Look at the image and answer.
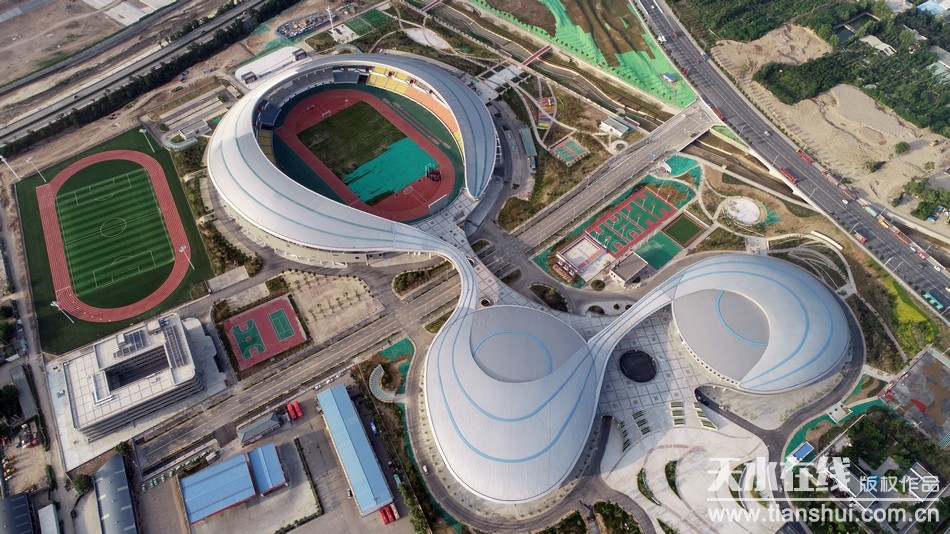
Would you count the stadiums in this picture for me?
2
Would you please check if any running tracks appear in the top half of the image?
Yes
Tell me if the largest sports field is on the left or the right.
left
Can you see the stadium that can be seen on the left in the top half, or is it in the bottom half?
top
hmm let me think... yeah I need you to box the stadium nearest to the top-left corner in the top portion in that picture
[207,52,500,310]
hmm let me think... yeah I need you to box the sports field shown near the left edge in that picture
[14,130,215,354]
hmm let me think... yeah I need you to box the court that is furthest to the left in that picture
[216,292,307,368]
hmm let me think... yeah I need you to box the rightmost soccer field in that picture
[662,208,710,248]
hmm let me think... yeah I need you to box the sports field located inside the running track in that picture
[299,100,406,206]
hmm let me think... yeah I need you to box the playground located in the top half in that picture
[537,97,556,129]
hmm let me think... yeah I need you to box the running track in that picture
[271,83,464,225]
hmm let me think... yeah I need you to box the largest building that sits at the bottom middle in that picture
[424,304,621,504]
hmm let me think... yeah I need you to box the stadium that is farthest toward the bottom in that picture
[620,252,852,395]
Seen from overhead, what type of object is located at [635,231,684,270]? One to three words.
tennis court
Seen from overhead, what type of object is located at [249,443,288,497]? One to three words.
shed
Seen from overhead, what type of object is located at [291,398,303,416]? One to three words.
vehicle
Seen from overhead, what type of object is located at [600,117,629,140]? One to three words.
building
